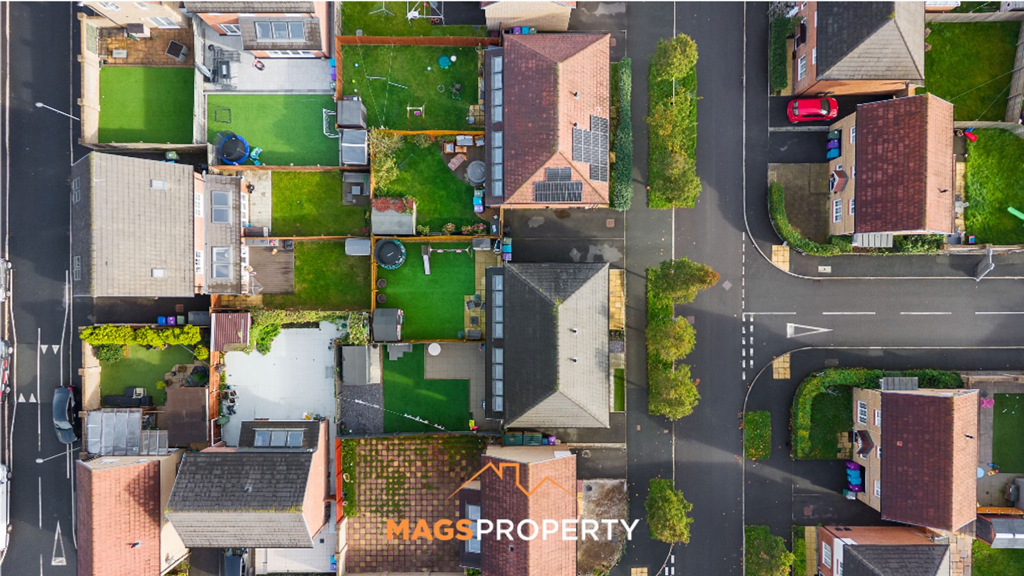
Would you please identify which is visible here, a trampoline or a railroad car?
trampoline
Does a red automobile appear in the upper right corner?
Yes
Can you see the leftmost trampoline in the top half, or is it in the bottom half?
top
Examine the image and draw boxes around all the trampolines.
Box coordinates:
[374,237,408,269]
[211,127,252,165]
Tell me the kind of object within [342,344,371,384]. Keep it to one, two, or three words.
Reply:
shed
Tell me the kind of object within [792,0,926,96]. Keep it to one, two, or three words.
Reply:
house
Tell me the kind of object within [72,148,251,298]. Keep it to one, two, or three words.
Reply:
house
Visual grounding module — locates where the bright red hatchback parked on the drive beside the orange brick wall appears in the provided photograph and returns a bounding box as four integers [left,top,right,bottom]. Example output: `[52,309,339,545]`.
[784,96,837,124]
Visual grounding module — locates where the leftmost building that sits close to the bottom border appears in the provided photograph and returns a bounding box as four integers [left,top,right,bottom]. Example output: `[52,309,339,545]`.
[75,447,189,576]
